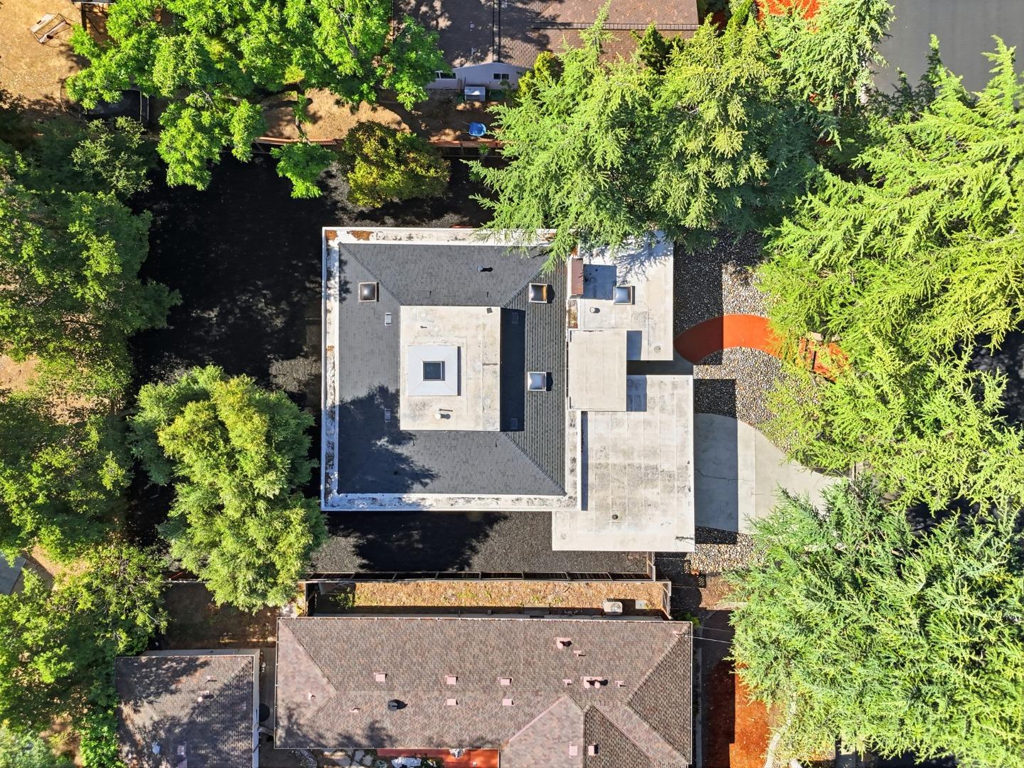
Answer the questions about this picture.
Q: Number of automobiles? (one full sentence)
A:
The photo contains no automobiles.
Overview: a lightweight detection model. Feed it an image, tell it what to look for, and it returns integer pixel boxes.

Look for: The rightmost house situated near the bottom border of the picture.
[272,610,695,768]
